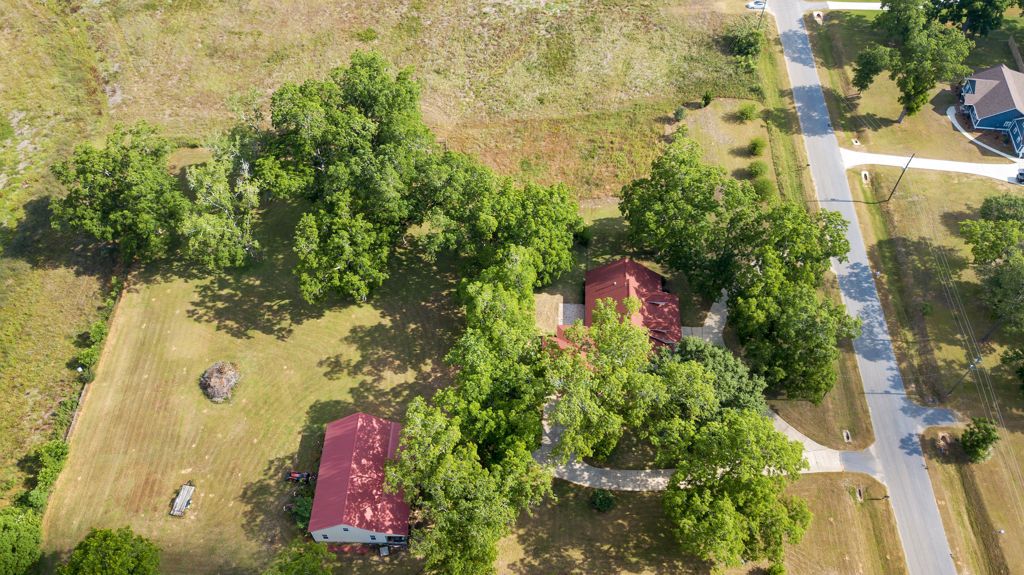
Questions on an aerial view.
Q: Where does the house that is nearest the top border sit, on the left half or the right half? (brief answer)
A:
right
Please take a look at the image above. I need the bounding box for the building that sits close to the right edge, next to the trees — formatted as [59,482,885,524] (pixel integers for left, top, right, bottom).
[954,65,1024,154]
